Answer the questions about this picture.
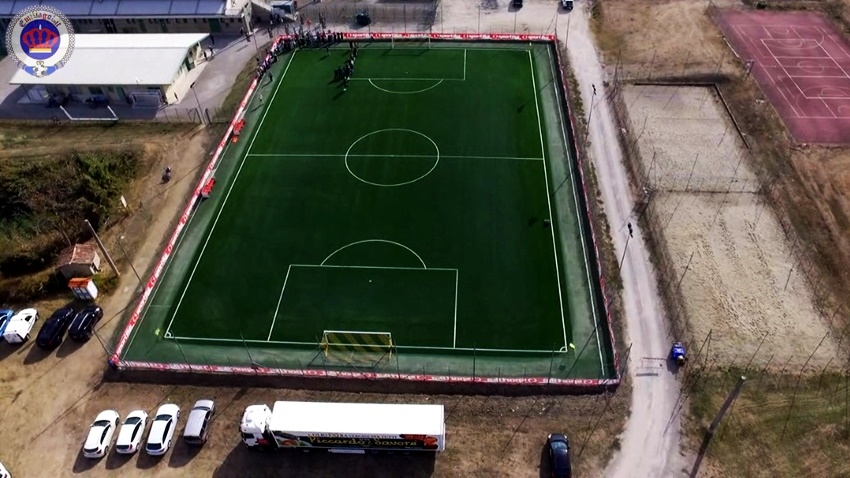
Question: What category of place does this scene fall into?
sports ground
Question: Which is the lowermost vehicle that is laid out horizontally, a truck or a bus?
truck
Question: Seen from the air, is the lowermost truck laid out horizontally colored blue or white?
white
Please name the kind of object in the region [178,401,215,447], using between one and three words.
car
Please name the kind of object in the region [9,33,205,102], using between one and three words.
building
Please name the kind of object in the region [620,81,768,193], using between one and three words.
sports court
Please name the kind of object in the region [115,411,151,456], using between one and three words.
car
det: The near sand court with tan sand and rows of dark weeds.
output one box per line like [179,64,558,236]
[648,191,848,367]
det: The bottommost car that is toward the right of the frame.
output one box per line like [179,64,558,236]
[545,434,573,478]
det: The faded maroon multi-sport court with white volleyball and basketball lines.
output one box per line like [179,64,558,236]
[709,8,850,145]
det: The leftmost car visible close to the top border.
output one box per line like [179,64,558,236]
[356,12,373,24]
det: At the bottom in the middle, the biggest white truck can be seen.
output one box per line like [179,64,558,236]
[239,402,444,456]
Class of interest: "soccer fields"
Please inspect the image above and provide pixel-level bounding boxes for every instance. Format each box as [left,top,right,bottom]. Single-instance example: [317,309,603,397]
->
[106,41,619,387]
